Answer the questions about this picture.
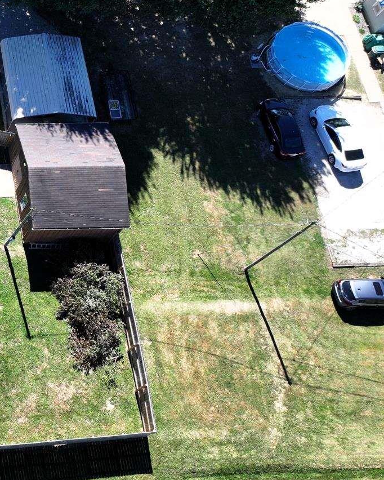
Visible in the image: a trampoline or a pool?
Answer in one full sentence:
The image shows a pool.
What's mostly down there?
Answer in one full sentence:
Most of the picture is covered by grass.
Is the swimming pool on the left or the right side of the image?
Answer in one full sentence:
The swimming pool is on the right side of the image.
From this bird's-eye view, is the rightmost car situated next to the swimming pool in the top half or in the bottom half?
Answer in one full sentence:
The rightmost car situated next to the swimming pool is in the top half of the image.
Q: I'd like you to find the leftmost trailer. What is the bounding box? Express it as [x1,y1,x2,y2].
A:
[102,57,144,117]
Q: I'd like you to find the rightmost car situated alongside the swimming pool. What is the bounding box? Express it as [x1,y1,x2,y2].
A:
[310,105,369,179]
